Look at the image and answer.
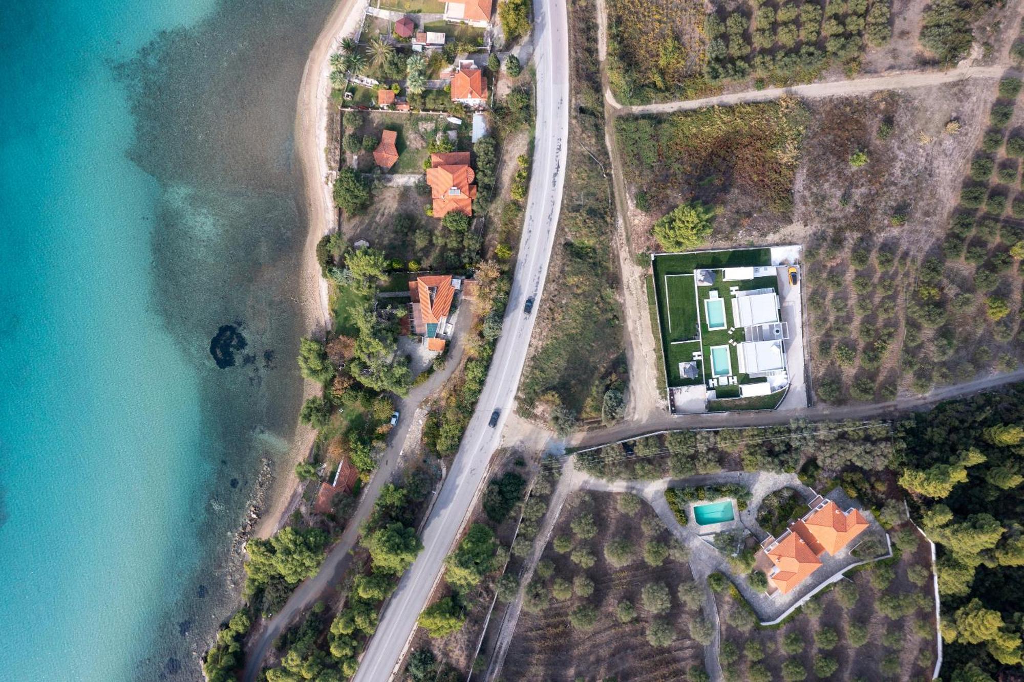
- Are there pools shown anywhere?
Yes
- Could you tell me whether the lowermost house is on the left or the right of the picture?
right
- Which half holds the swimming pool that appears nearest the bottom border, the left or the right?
right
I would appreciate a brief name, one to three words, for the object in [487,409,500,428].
vehicle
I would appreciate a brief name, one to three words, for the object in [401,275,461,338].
house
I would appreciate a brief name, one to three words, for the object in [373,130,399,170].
building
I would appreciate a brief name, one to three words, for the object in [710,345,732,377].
swimming pool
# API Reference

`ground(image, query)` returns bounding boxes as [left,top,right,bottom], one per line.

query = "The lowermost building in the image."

[759,495,870,599]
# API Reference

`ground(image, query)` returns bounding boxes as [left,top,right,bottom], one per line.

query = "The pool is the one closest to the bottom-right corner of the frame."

[693,498,736,527]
